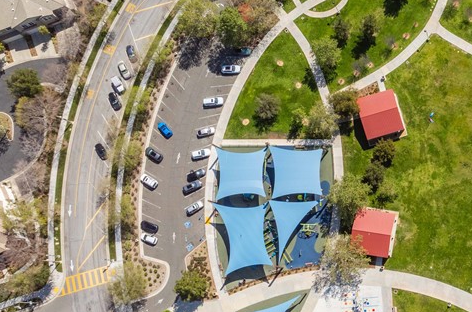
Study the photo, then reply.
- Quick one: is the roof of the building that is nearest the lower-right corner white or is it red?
red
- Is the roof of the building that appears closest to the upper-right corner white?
No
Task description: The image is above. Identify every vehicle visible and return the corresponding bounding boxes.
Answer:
[140,221,161,233]
[108,92,122,111]
[110,76,126,95]
[118,61,132,80]
[183,182,203,194]
[125,44,138,64]
[158,122,174,139]
[140,234,161,245]
[184,201,204,215]
[237,47,254,56]
[188,169,208,179]
[203,97,224,107]
[94,142,108,162]
[197,128,217,137]
[146,147,164,163]
[222,64,242,74]
[191,149,211,159]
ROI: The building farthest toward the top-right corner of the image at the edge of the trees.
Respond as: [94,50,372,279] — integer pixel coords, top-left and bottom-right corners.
[357,87,410,140]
